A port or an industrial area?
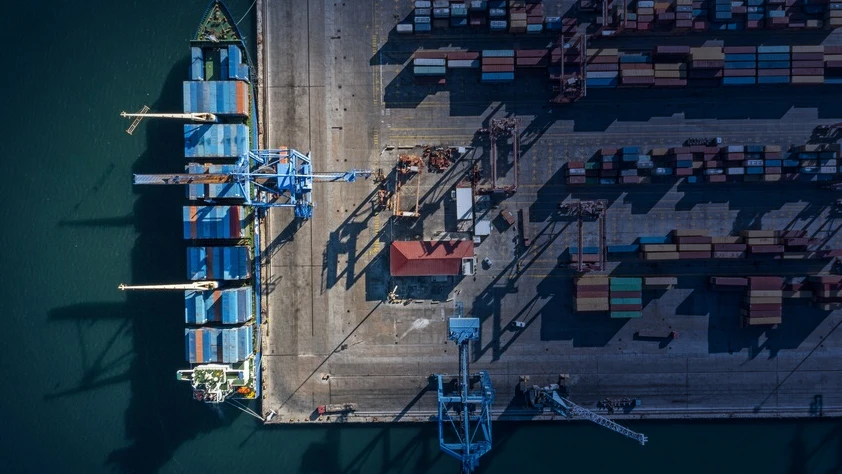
port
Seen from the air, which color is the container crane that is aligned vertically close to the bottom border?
blue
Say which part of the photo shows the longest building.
center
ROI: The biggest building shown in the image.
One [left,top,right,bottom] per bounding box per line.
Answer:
[390,239,475,277]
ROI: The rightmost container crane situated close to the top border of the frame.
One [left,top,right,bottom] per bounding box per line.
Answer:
[589,0,631,44]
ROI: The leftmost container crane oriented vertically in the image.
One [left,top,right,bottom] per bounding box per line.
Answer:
[396,149,424,219]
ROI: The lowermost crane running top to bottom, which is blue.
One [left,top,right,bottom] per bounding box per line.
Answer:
[430,298,502,474]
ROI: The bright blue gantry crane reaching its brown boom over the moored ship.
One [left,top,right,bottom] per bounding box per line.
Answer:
[132,148,372,219]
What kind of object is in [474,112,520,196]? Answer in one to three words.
container crane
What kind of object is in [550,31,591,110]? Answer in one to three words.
container crane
